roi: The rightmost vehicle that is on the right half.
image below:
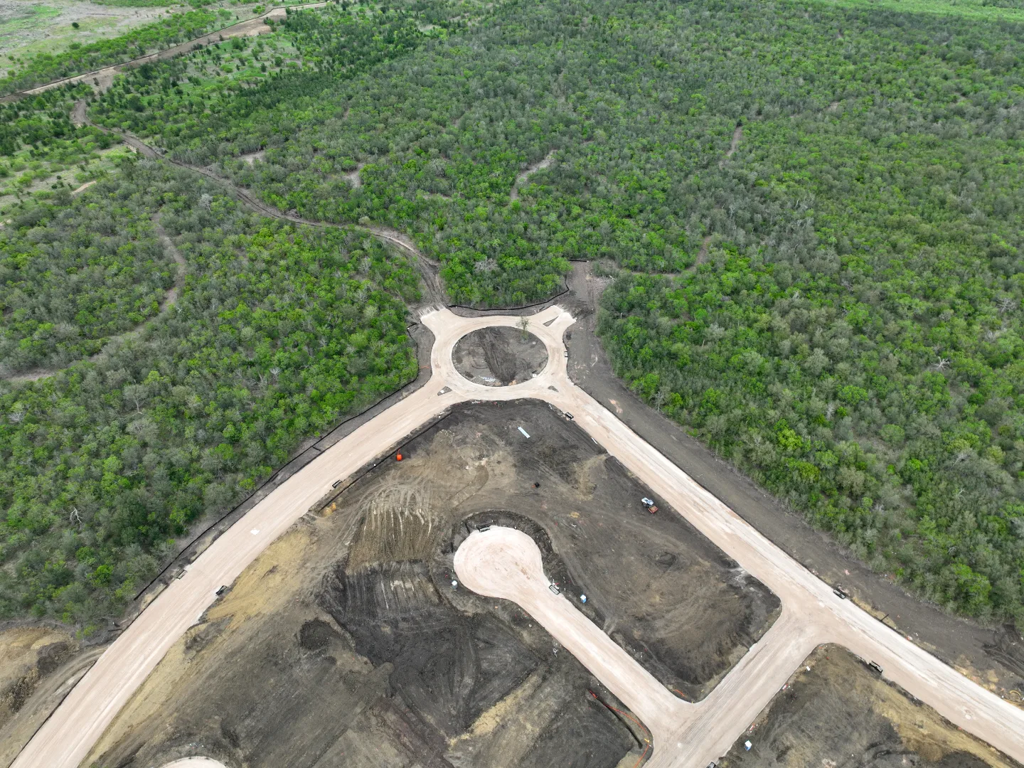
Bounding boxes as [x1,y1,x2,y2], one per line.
[642,496,664,517]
